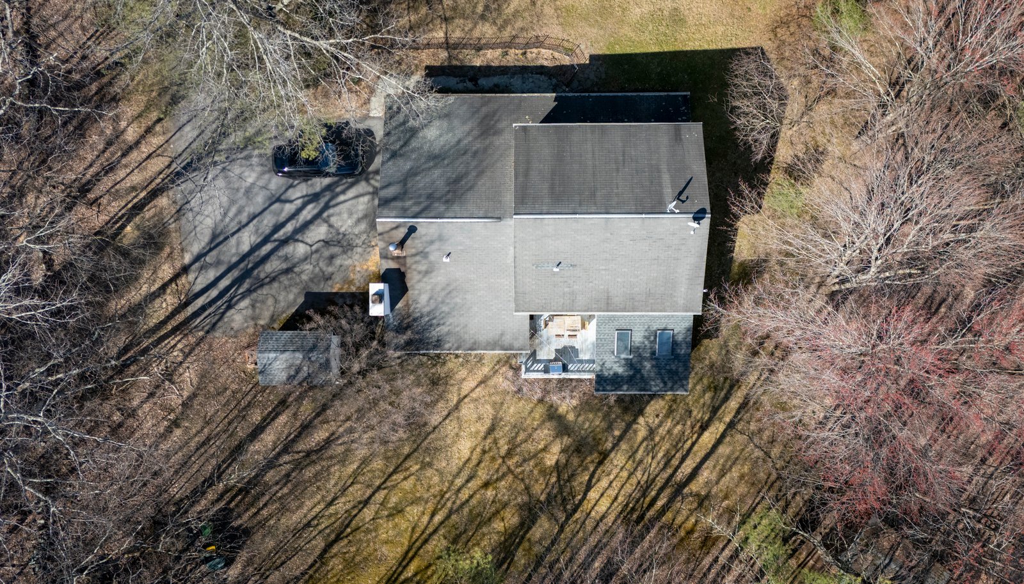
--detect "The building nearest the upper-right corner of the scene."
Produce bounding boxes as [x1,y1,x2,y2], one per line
[370,92,713,395]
